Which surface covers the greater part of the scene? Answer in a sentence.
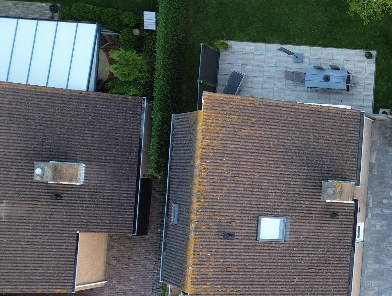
The scene is dominated by buildings.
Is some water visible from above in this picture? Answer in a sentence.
No, water can't be seen anywhere here.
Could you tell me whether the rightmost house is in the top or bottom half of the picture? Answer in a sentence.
The rightmost house is in the bottom half of the image.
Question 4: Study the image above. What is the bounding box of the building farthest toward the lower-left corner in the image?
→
[0,82,153,294]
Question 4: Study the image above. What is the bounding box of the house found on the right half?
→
[159,91,373,296]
